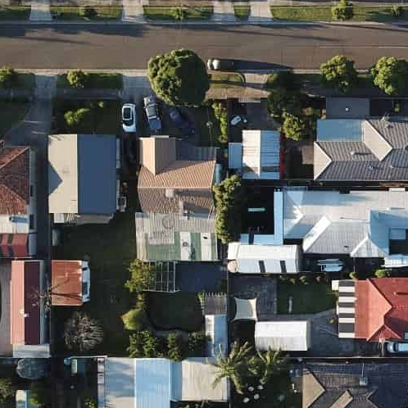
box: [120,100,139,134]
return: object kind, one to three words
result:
car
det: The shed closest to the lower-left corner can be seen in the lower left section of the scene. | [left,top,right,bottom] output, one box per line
[17,388,44,408]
